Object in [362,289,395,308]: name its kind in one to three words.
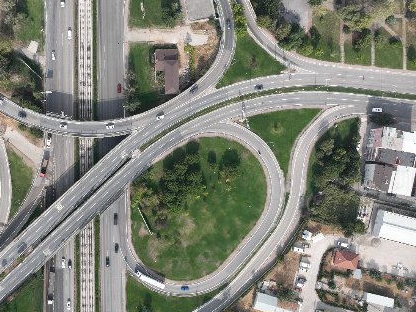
shed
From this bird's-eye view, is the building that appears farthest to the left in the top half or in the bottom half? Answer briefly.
top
